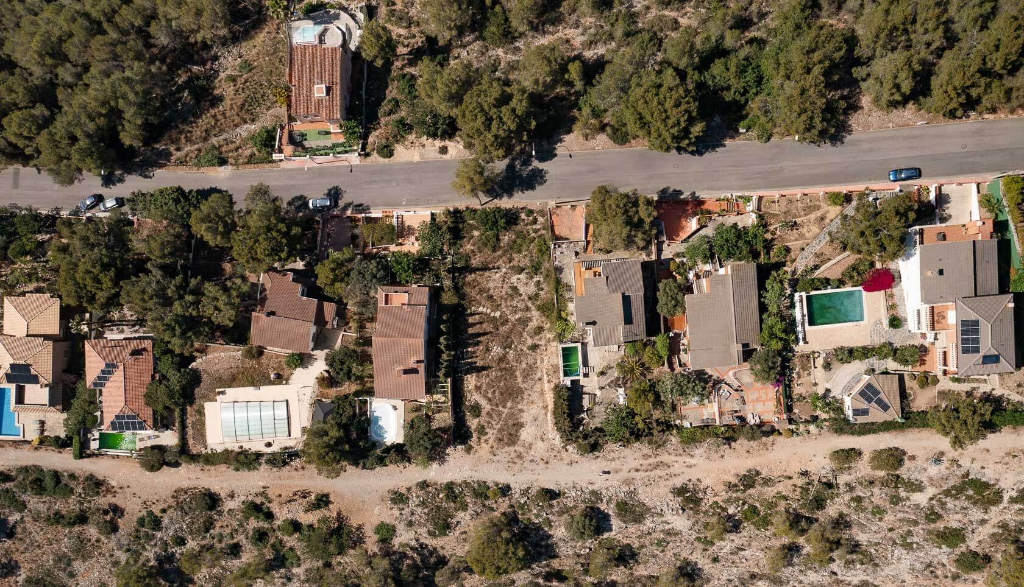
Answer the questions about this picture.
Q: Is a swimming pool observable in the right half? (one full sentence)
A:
Yes, a swimming pool appears in the right half.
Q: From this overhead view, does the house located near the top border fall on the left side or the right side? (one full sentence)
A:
The house located near the top border sits on the left side.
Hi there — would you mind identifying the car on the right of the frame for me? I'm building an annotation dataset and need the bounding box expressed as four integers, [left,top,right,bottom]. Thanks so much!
[887,168,919,183]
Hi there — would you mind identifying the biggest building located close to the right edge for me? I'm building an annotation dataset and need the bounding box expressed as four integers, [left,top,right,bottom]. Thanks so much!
[892,220,1017,377]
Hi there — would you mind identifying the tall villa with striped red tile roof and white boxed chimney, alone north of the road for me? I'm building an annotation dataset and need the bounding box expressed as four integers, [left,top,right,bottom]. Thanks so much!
[292,23,349,129]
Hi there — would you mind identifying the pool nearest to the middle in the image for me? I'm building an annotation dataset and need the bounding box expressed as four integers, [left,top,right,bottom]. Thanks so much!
[559,342,582,381]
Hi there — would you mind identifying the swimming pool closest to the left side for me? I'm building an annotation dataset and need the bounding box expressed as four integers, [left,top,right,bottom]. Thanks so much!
[0,386,23,437]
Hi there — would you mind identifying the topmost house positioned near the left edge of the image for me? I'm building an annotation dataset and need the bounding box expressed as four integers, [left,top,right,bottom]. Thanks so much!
[3,293,69,335]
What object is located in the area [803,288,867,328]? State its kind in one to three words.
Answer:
swimming pool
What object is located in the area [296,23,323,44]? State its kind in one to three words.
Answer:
swimming pool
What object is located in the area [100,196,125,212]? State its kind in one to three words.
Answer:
car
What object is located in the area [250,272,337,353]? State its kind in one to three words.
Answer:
house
